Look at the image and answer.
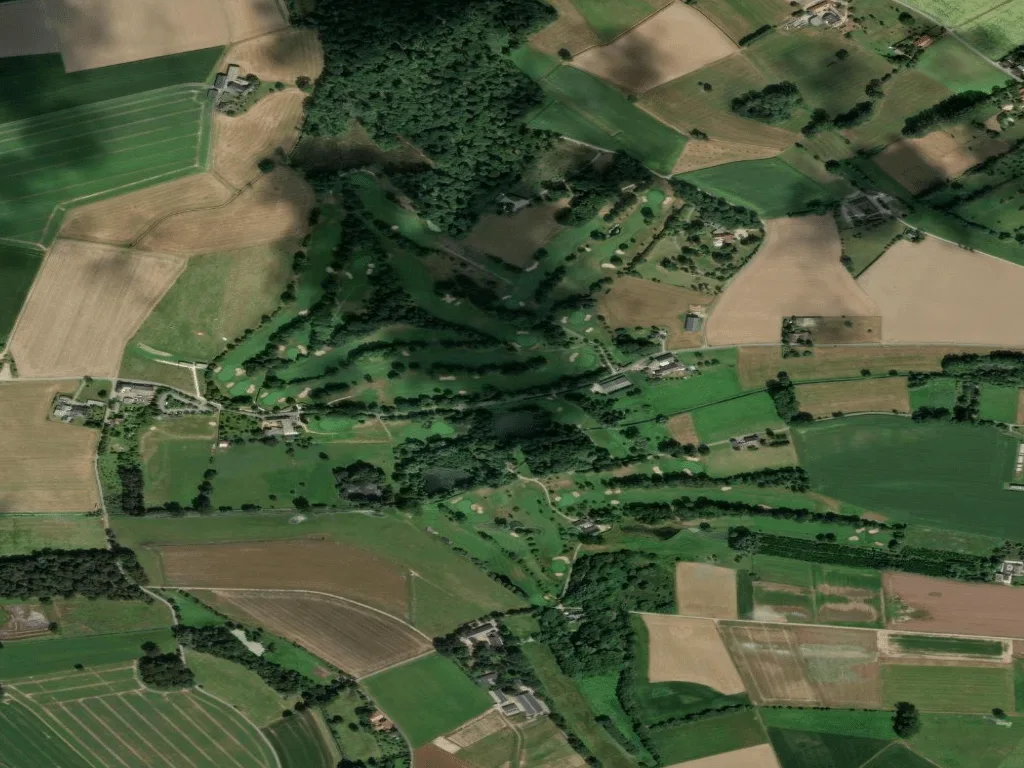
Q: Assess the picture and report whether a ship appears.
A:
No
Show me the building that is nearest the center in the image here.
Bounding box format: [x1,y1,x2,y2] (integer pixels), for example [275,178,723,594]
[599,375,631,395]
